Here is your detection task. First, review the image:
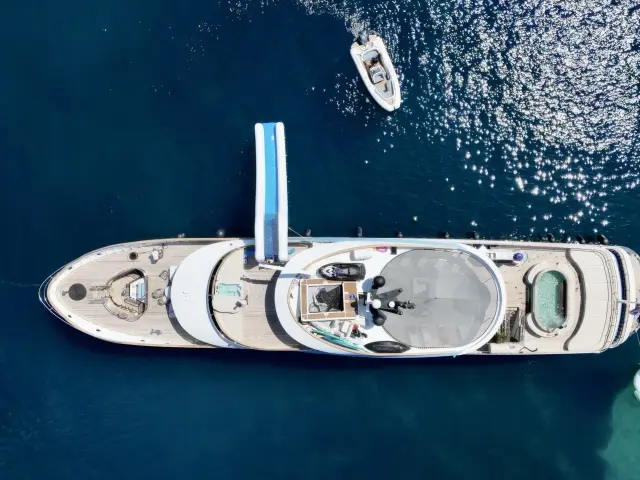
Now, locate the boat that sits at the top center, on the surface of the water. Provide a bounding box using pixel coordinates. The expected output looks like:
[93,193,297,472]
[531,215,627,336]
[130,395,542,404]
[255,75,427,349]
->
[352,33,402,111]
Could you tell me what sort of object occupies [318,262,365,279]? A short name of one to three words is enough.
boat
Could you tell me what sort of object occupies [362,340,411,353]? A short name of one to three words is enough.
boat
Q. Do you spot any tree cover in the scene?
No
